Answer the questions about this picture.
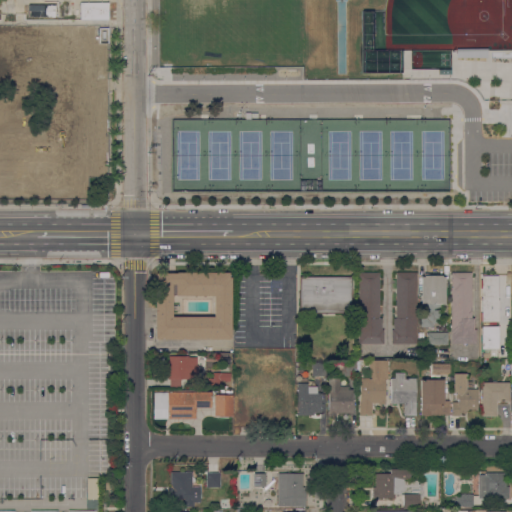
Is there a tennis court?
Yes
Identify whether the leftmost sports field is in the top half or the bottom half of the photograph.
top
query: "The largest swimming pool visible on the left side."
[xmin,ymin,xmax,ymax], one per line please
[184,299,213,314]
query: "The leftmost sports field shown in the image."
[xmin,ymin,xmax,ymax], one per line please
[160,0,304,66]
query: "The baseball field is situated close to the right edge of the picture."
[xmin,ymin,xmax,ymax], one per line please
[386,0,512,49]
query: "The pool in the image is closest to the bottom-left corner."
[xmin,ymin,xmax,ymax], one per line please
[238,472,254,491]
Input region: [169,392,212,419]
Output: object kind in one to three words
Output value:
house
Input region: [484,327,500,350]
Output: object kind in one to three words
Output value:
building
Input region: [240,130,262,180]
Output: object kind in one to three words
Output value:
tennis court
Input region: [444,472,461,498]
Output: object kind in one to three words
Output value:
swimming pool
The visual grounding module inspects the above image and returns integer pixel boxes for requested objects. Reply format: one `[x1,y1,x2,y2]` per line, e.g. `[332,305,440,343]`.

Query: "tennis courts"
[270,130,293,180]
[240,130,262,180]
[208,130,232,180]
[328,130,352,180]
[422,130,444,180]
[390,130,413,180]
[178,130,200,180]
[359,130,382,180]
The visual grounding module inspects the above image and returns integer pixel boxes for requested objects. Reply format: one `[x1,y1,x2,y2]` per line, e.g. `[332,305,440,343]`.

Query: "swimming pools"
[422,472,440,500]
[184,299,213,314]
[444,472,461,498]
[238,472,254,491]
